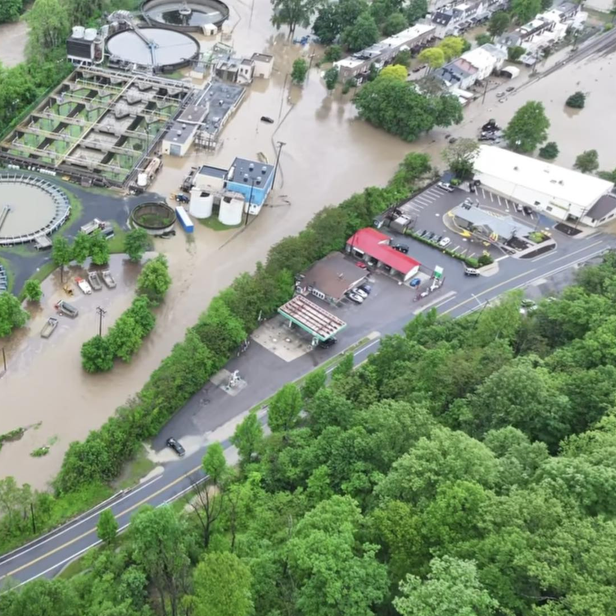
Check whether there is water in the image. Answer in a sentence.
Yes, water can be seen from above here.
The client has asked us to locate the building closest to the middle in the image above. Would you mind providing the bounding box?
[300,253,366,311]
